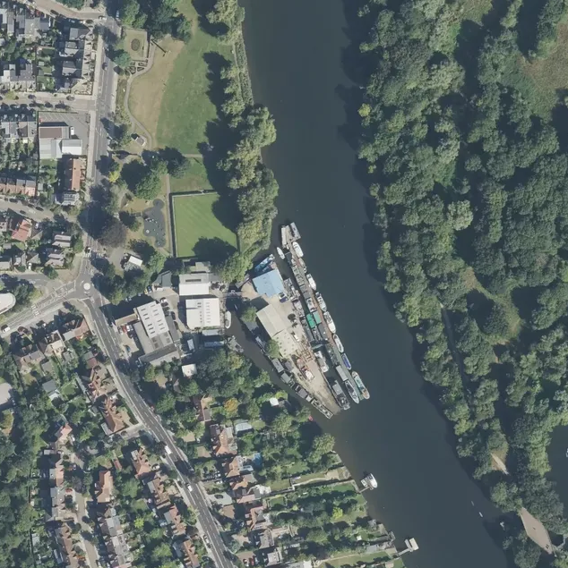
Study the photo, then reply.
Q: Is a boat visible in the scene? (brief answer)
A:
Yes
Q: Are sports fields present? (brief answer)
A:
Yes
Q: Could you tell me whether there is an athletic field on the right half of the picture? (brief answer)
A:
No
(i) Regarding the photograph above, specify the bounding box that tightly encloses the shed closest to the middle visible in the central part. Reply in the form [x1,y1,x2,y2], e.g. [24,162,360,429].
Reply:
[253,268,285,299]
